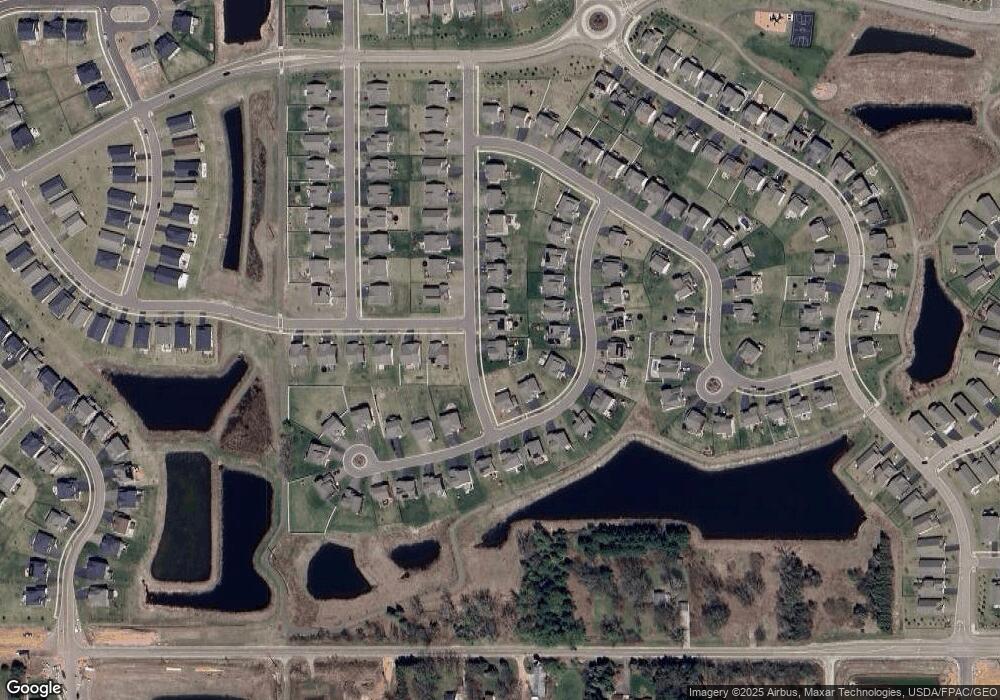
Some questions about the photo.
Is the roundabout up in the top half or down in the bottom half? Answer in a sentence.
The top half of the photo is where the roundabout is.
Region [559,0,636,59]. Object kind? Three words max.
roundabout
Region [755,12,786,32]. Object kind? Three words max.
playground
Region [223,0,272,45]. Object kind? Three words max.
pond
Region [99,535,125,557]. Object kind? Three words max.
house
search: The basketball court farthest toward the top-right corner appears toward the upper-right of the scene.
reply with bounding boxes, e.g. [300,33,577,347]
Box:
[791,12,815,47]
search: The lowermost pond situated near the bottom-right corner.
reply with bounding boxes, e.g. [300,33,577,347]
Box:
[849,671,944,700]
